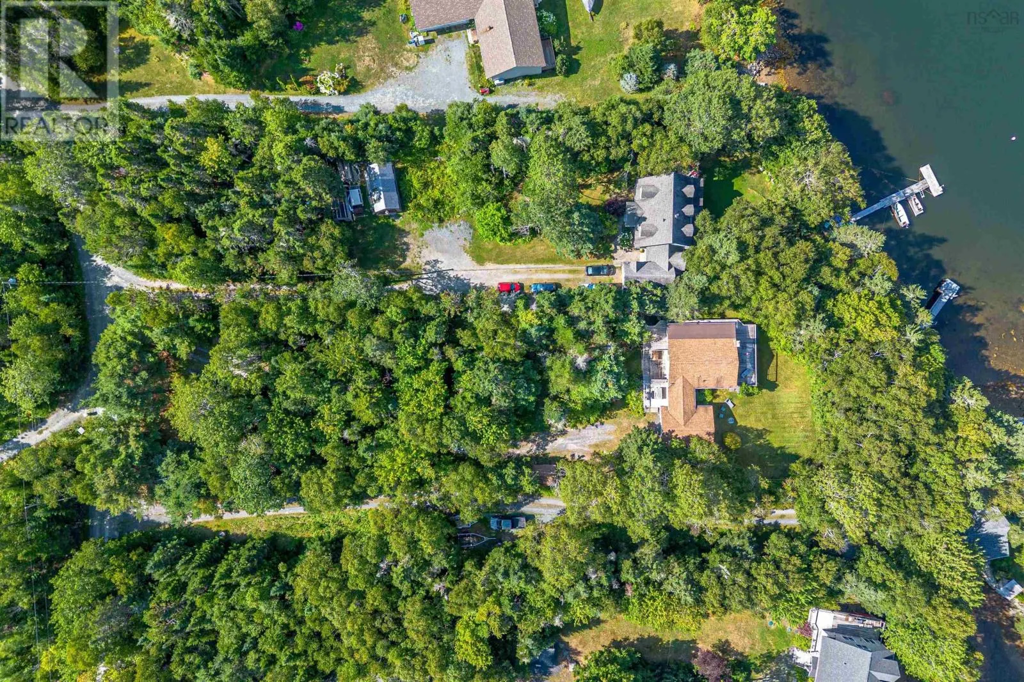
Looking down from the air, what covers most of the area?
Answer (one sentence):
What you mostly see from above here is trees.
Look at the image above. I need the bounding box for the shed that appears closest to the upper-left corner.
[366,161,400,216]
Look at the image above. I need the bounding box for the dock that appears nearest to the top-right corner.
[849,163,945,219]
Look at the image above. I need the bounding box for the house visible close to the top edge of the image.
[410,0,558,80]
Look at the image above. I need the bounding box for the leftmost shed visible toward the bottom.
[532,463,555,485]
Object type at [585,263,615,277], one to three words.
car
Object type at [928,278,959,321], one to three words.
pier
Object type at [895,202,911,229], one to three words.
boat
